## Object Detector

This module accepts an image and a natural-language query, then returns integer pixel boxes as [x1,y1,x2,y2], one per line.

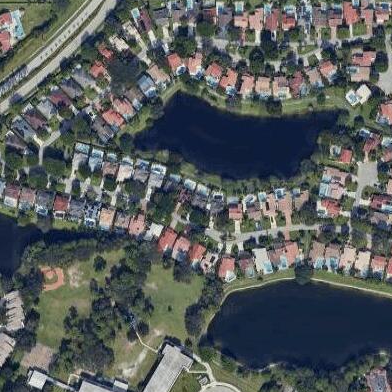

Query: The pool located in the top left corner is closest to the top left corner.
[11,9,26,38]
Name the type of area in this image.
residential area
